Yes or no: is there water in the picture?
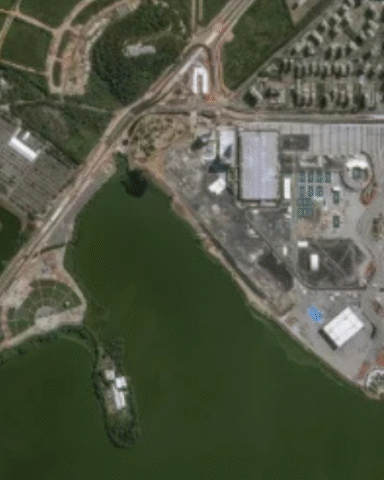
Yes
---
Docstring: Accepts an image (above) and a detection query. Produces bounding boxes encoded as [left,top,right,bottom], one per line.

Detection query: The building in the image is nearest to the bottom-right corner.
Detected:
[323,307,364,347]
